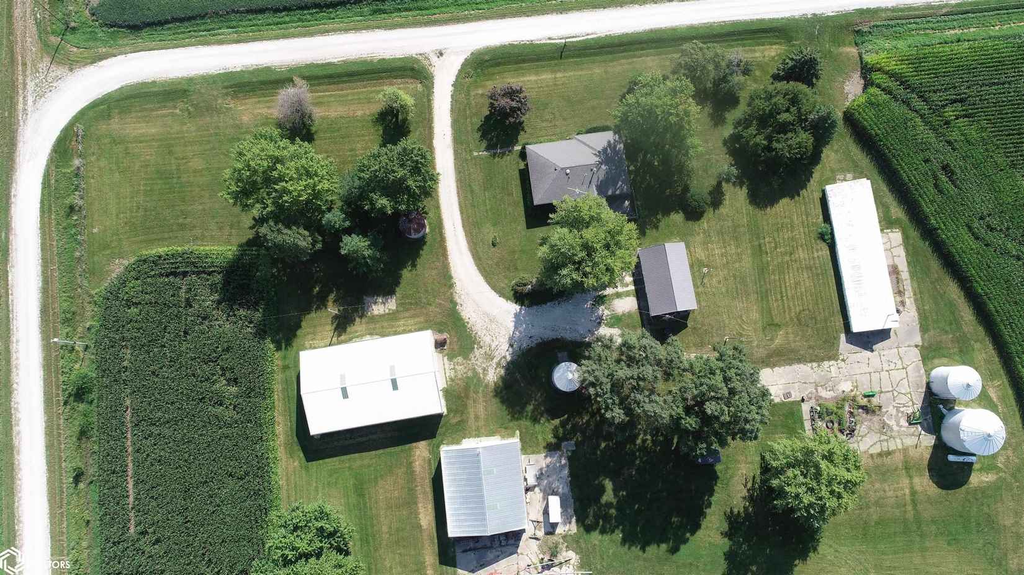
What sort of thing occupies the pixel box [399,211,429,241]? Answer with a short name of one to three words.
silo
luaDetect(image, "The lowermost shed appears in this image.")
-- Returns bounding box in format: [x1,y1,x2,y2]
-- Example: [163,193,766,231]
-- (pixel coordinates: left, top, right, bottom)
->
[441,441,527,537]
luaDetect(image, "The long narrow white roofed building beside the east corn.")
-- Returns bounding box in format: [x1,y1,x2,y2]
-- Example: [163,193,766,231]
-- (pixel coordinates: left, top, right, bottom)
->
[820,179,902,333]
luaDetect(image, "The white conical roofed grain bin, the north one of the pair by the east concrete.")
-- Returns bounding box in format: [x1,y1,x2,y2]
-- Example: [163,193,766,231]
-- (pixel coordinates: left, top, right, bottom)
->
[929,366,982,400]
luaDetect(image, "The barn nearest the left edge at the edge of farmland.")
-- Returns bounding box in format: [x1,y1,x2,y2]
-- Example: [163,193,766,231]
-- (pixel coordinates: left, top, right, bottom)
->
[299,330,443,436]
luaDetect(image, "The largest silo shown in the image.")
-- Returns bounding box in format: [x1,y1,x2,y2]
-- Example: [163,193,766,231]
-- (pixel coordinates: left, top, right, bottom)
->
[940,407,1006,456]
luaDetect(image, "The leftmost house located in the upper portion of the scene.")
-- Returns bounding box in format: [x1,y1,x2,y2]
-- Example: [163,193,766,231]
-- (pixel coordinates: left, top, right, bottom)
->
[525,130,634,206]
